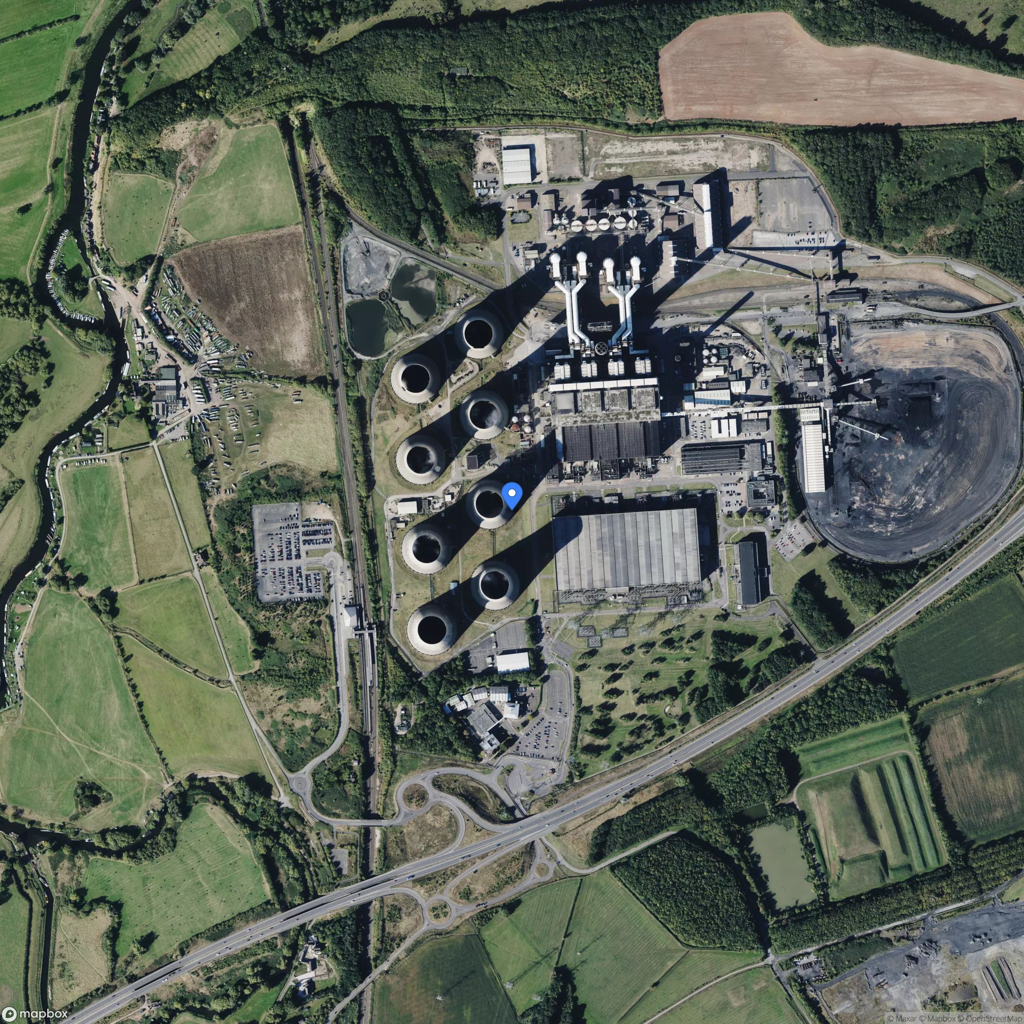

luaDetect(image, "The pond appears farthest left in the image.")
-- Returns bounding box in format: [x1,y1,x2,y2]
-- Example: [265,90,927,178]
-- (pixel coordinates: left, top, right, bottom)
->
[347,299,387,357]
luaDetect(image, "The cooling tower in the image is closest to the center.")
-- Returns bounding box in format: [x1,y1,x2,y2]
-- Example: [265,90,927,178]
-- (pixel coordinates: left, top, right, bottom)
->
[464,478,516,530]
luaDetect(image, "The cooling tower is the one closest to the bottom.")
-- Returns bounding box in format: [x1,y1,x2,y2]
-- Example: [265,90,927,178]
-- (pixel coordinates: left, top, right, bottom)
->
[406,604,458,656]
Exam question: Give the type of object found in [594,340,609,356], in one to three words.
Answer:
chimney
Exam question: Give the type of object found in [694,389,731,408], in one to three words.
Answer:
shed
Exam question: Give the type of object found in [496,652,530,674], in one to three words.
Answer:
building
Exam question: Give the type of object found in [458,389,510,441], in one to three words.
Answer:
cooling tower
